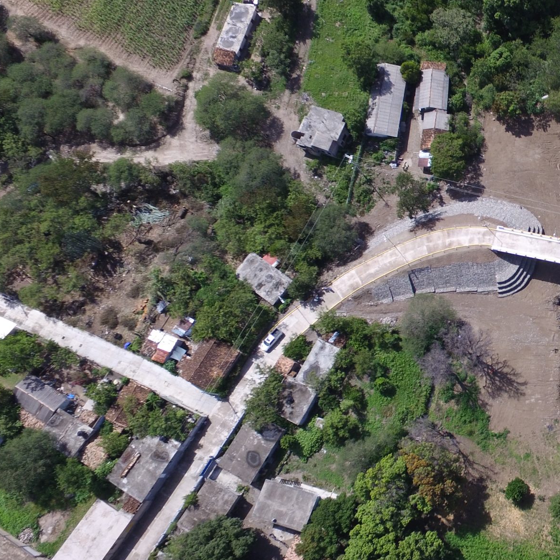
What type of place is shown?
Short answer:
residential area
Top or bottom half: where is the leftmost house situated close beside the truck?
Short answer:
bottom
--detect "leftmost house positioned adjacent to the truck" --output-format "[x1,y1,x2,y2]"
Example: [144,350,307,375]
[179,340,245,390]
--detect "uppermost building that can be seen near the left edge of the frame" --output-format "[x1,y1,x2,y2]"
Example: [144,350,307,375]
[0,315,29,344]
